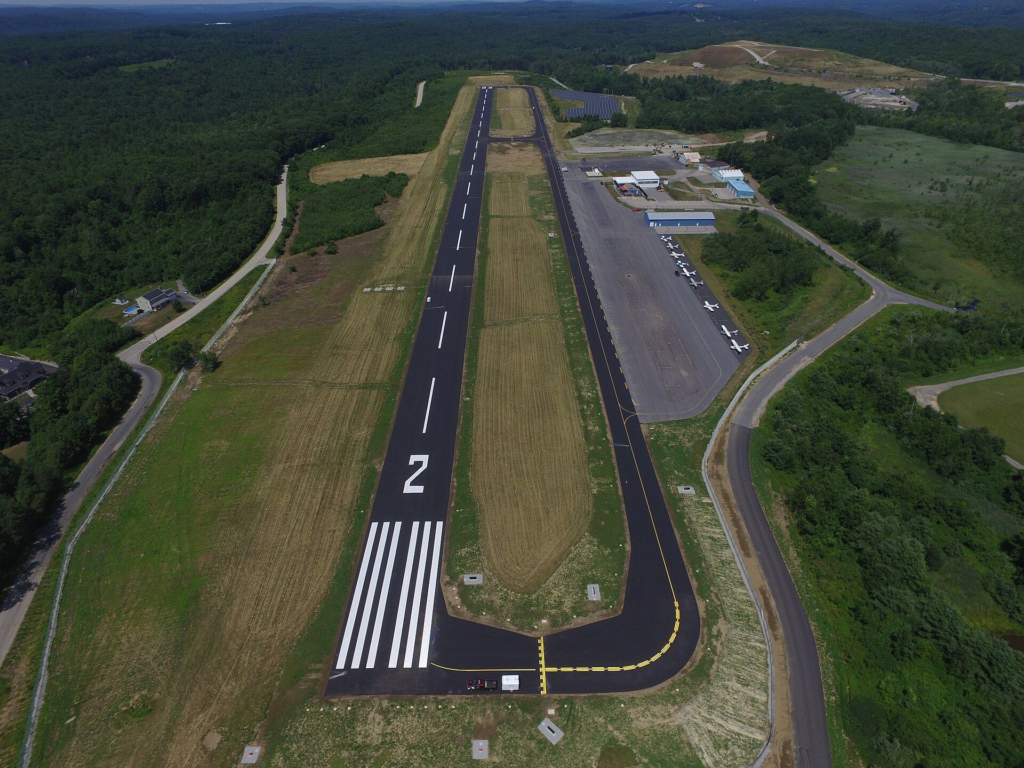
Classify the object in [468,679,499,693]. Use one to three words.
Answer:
vehicle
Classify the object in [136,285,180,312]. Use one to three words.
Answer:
house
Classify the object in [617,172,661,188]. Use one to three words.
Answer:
building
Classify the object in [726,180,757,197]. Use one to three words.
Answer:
hangar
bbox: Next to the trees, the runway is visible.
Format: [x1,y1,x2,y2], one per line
[326,87,494,695]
